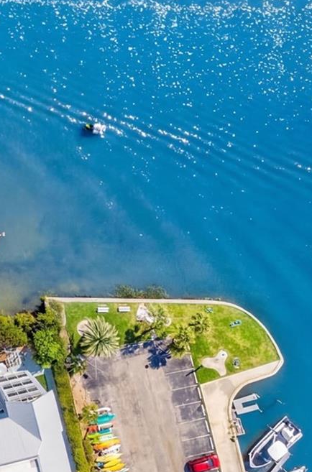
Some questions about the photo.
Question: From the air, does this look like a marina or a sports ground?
marina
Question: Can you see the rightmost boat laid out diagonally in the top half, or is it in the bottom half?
bottom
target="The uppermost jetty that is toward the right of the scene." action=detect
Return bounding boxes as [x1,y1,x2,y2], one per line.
[233,393,263,415]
